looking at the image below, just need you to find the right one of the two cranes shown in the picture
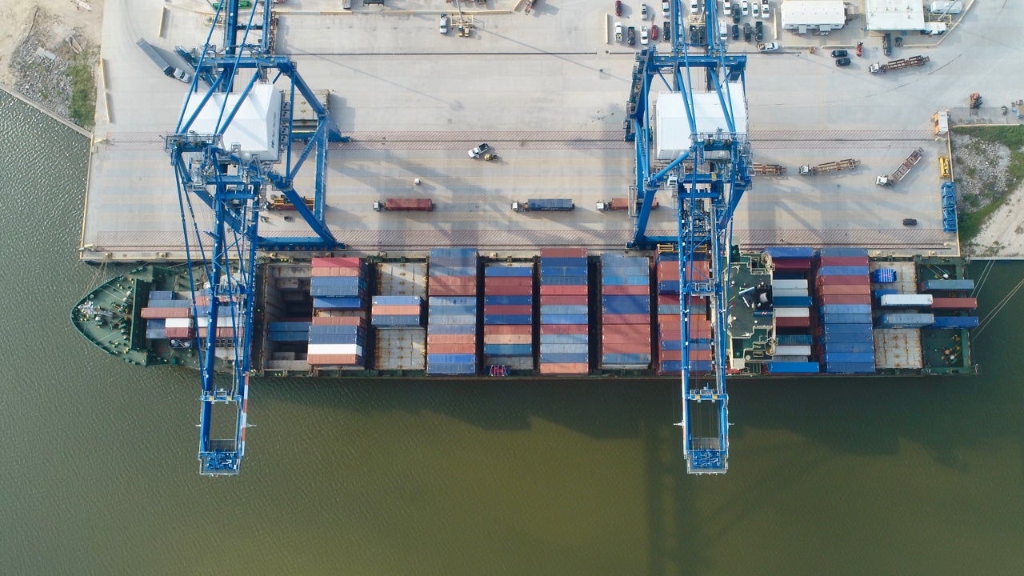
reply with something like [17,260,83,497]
[614,0,755,476]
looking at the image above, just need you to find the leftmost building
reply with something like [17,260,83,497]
[782,1,845,38]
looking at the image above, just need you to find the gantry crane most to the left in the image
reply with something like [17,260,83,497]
[169,0,349,475]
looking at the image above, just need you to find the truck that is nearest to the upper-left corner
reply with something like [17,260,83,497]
[132,35,180,82]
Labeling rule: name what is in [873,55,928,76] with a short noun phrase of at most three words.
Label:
truck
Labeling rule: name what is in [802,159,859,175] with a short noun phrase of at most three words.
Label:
vehicle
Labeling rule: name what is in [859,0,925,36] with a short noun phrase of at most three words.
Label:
shed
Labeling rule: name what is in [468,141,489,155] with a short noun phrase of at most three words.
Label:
vehicle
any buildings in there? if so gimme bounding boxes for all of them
[859,0,925,36]
[929,108,951,134]
[782,1,845,38]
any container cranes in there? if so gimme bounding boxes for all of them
[169,0,349,475]
[614,0,755,476]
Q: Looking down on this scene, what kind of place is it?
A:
port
